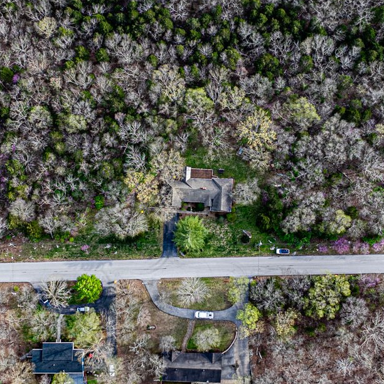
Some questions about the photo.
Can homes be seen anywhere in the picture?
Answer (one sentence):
Yes, a home is visible in the scene.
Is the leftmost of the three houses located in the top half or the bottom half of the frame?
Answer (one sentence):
The bottom half of the photo is where the leftmost of the three houses is.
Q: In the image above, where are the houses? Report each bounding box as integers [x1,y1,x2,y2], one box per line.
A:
[162,353,224,384]
[31,340,86,384]
[170,168,233,212]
